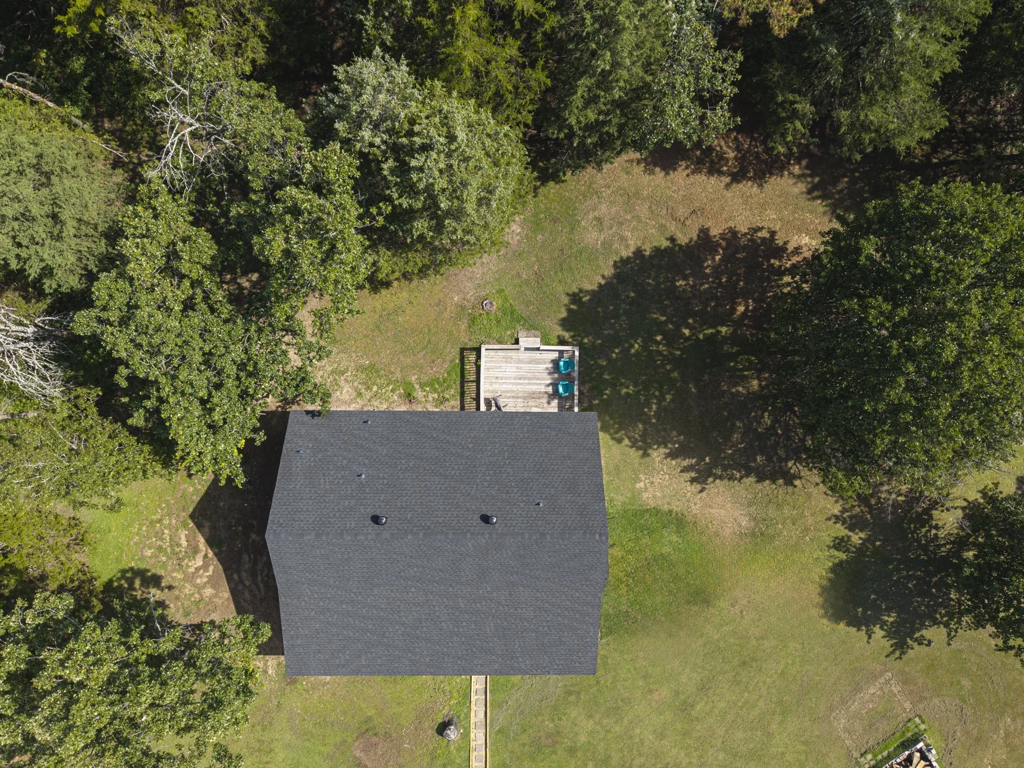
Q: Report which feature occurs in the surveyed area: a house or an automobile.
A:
house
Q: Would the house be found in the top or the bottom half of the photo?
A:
bottom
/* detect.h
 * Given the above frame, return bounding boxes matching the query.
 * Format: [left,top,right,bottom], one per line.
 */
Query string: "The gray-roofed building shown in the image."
[265,411,609,675]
